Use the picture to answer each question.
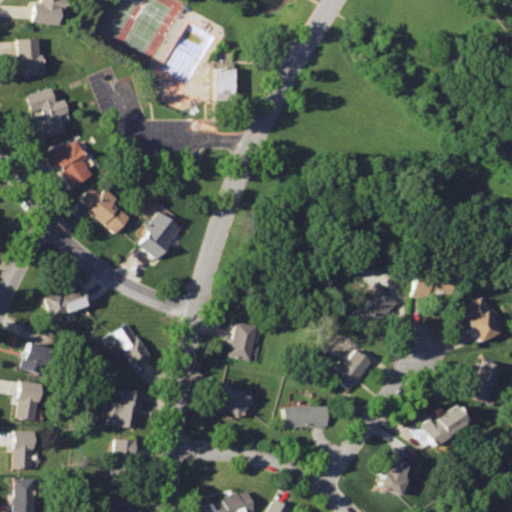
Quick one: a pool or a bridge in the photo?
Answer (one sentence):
Of the two, only a pool appears.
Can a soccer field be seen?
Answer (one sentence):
No, the frame has no soccer field in it.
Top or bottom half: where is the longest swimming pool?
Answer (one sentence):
Seen from above, the longest swimming pool lies in the top half of the view.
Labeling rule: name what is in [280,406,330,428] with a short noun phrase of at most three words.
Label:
house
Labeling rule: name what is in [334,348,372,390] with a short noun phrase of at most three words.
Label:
house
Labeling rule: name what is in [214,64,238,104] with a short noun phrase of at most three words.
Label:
building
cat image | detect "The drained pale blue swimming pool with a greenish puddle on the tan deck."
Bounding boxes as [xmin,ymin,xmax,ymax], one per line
[165,24,216,84]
